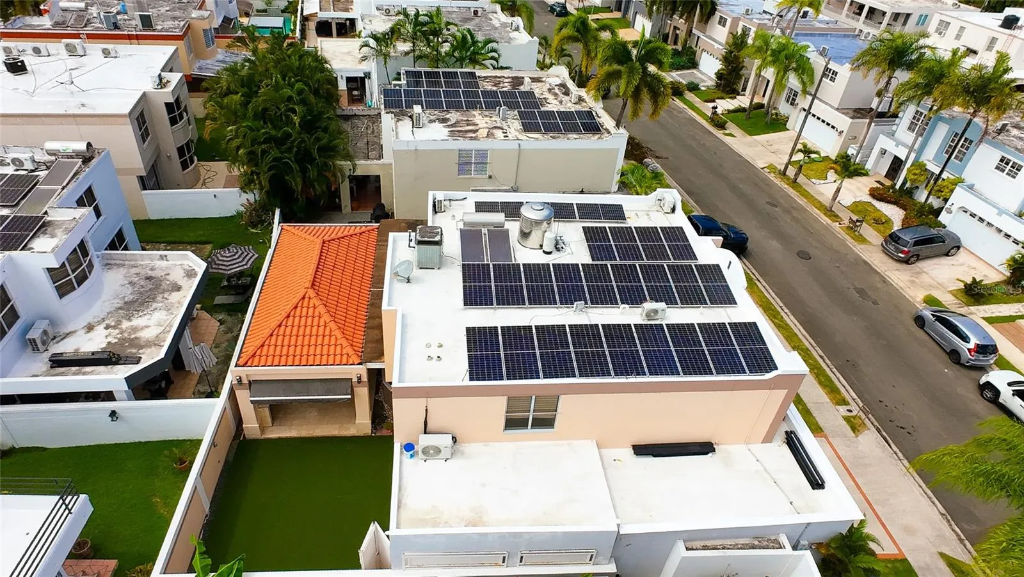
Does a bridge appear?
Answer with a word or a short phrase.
No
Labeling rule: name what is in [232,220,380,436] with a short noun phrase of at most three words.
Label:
gazebo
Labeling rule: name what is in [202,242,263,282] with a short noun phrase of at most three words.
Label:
umbrella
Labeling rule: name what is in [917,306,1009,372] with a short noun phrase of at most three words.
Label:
car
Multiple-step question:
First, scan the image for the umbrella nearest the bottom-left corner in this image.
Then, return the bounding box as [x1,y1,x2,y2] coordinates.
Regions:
[178,353,212,395]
